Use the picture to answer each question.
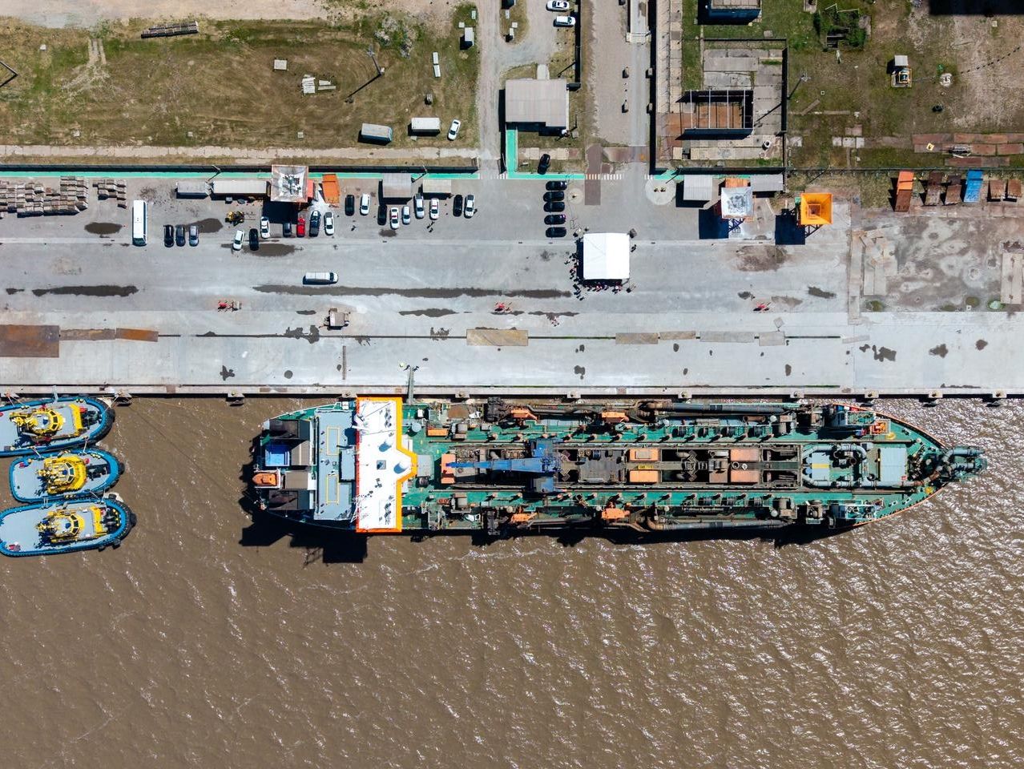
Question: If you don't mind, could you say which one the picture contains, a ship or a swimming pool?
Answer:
ship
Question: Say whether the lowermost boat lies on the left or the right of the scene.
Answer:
left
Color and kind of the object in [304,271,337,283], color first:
white vehicle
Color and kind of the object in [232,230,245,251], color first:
white vehicle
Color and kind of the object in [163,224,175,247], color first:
black vehicle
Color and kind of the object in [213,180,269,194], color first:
white trailer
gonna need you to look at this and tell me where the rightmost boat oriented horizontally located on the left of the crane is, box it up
[253,472,280,485]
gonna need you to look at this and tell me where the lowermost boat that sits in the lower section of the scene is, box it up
[0,499,137,559]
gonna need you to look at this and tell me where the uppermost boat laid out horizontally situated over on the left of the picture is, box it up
[0,395,117,456]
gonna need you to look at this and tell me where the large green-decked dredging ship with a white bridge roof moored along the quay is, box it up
[252,398,988,533]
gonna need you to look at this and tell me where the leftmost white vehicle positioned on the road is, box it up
[130,199,148,245]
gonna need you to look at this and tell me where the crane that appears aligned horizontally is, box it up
[444,440,566,493]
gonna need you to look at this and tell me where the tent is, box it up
[583,233,630,280]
